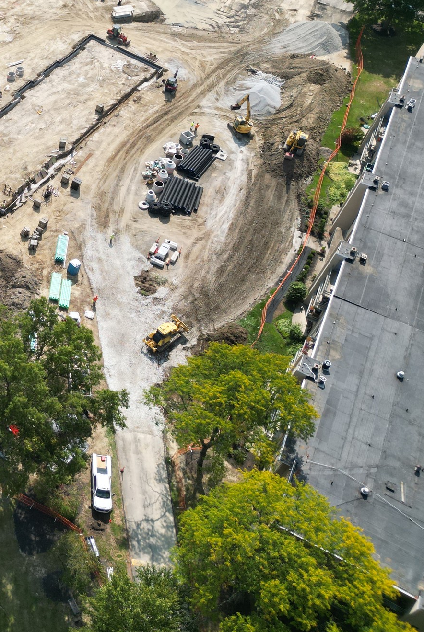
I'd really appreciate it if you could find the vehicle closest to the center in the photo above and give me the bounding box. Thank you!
[143,314,189,350]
